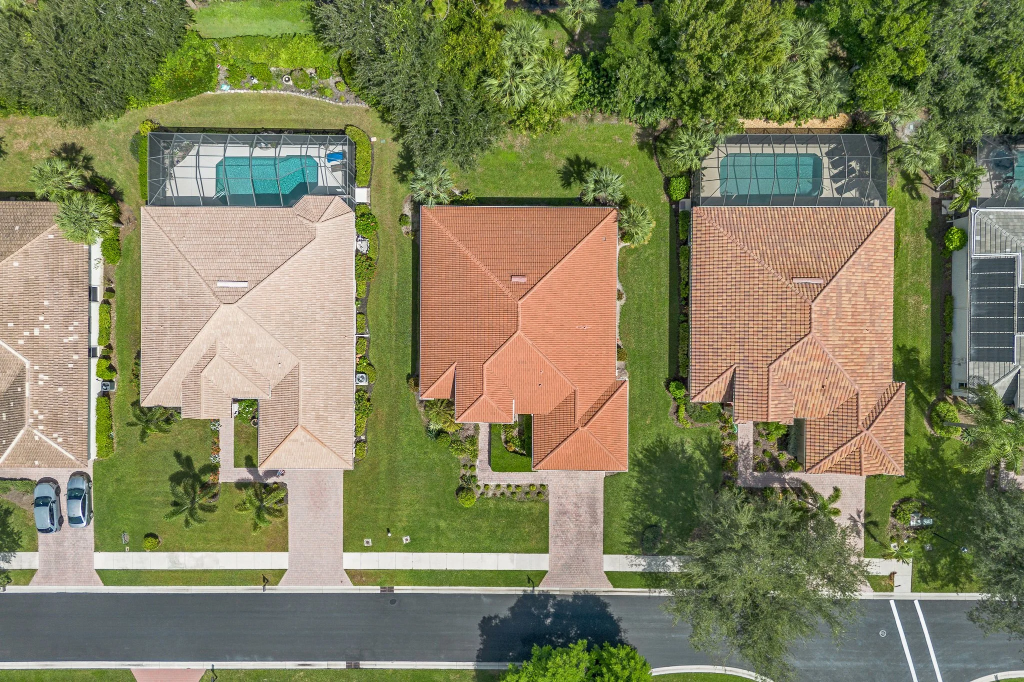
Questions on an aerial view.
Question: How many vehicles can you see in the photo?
2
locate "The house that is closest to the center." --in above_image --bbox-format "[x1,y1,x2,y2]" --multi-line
[418,205,630,473]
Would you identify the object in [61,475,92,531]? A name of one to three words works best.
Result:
car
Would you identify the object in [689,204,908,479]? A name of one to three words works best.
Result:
house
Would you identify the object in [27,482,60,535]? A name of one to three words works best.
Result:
car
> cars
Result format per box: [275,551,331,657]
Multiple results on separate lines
[27,482,60,535]
[61,475,92,531]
